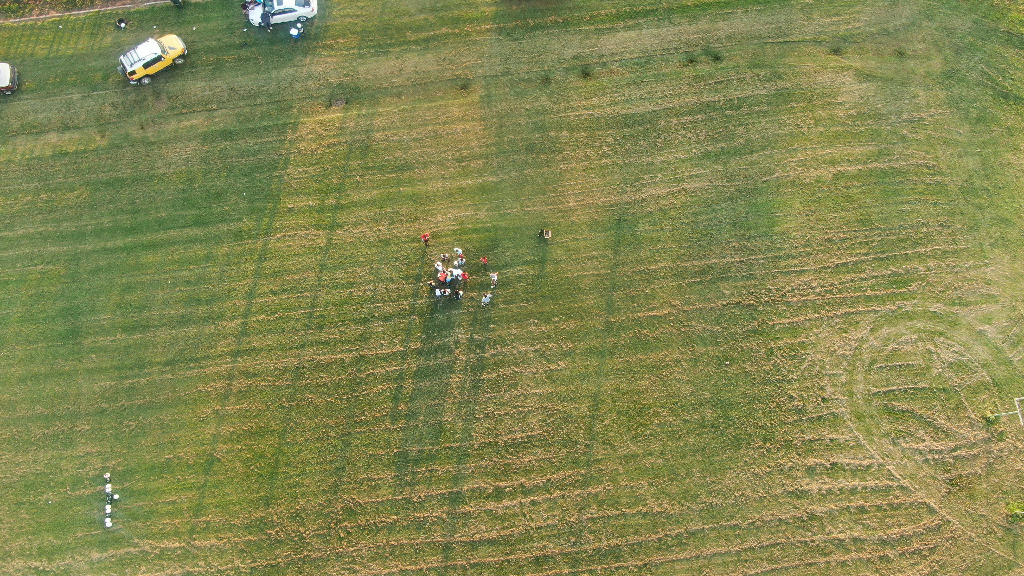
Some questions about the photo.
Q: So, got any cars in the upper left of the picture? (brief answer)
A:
Yes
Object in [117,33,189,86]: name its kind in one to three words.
car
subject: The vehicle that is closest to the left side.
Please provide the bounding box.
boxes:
[0,65,20,96]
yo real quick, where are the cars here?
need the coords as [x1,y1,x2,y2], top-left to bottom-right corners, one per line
[246,0,317,27]
[0,65,20,96]
[117,33,189,86]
